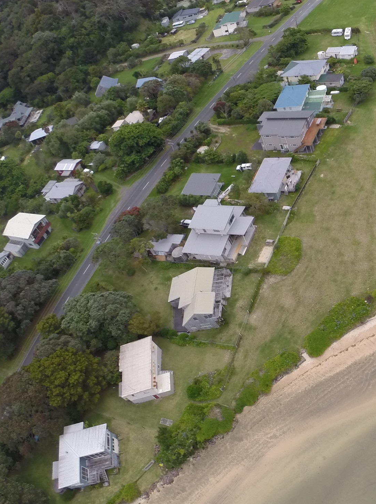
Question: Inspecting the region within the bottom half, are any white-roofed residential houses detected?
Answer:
Yes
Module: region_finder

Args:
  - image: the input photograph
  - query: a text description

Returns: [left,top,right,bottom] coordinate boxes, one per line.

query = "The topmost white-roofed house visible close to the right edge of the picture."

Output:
[326,45,359,61]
